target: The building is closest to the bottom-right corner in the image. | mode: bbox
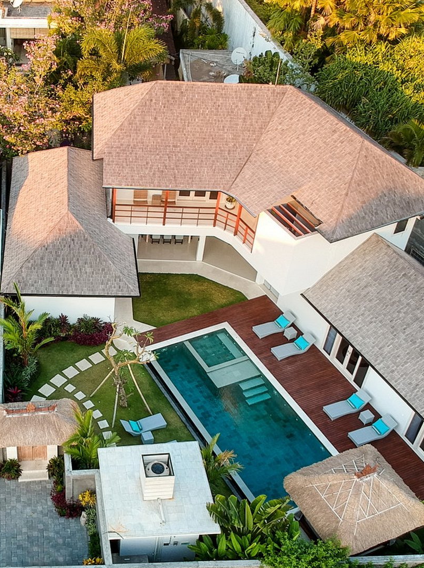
[282,444,424,561]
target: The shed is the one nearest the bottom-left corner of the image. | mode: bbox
[98,441,221,559]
